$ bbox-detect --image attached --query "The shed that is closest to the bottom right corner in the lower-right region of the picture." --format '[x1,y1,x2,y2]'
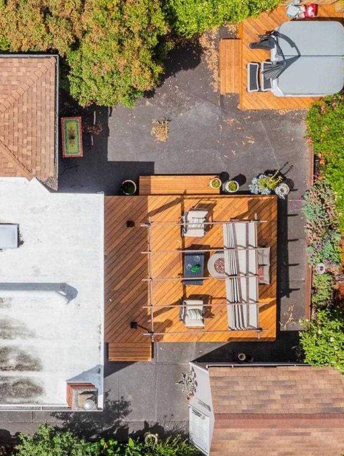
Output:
[187,362,344,456]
